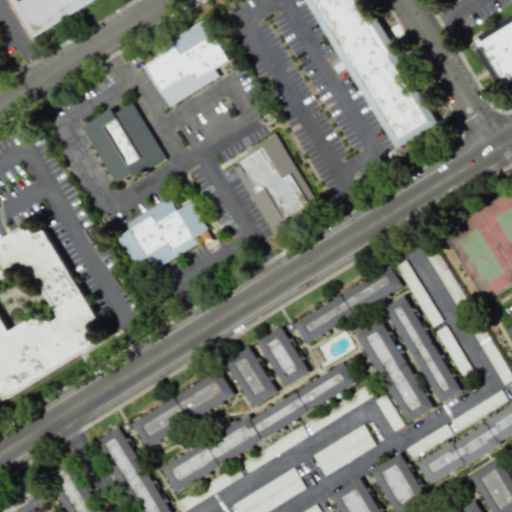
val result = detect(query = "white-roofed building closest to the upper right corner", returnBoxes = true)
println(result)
[478,24,512,80]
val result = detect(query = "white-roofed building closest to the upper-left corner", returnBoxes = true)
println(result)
[10,0,96,38]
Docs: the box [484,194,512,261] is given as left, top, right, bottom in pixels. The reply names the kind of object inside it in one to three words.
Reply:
tennis court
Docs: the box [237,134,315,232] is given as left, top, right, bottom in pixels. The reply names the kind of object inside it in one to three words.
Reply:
building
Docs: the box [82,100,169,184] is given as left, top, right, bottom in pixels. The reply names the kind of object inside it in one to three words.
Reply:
building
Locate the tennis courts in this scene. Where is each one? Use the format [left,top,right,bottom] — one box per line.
[484,194,512,261]
[451,214,512,297]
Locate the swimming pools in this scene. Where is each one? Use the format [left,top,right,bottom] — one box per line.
[320,331,356,368]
